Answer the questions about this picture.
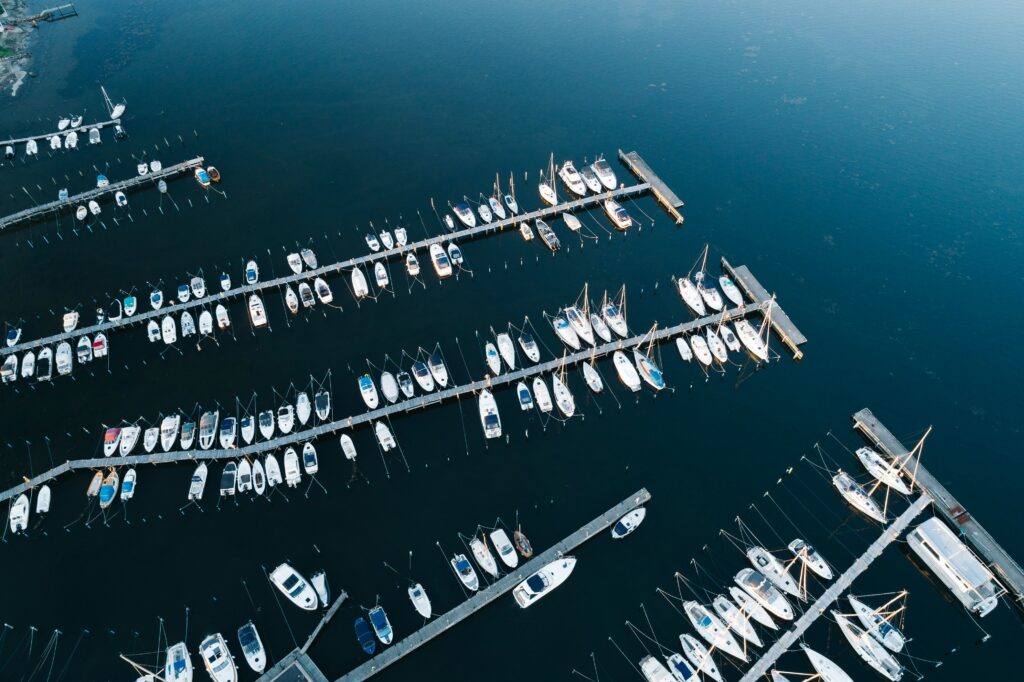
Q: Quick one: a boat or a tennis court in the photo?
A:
boat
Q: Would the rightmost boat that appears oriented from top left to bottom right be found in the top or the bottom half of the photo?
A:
bottom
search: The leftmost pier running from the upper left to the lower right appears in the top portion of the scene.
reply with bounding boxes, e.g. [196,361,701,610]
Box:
[625,151,684,210]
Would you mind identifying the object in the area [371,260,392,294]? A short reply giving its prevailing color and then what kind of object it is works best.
white boat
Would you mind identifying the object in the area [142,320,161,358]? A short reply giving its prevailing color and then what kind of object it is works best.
white boat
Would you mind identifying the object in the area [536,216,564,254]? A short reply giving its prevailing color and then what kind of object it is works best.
gray boat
